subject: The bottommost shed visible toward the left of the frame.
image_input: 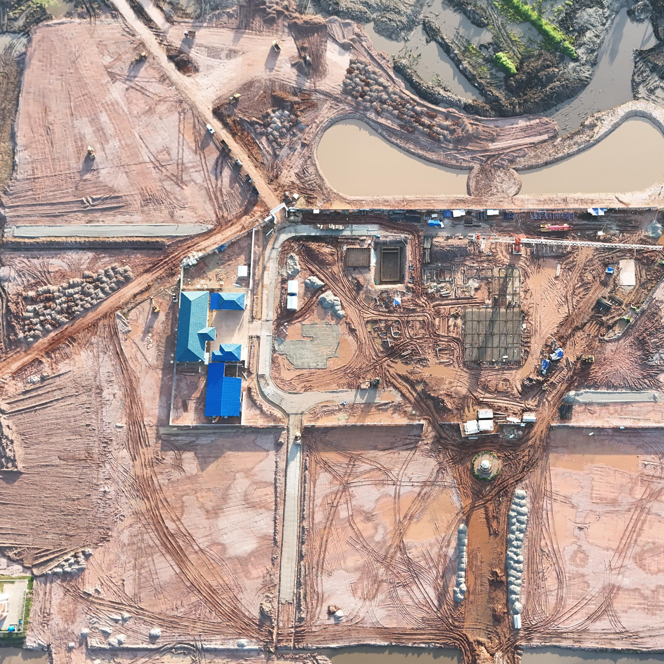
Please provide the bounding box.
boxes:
[202,363,244,416]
